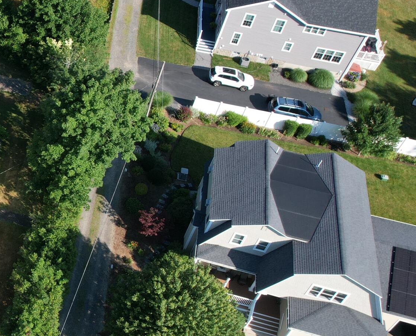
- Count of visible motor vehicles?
2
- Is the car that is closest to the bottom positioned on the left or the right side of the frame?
right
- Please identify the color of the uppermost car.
white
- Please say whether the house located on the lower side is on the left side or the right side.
right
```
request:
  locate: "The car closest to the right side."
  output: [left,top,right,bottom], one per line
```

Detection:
[269,91,326,121]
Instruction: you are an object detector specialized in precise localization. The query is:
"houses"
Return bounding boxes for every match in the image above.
[176,139,416,336]
[189,0,390,78]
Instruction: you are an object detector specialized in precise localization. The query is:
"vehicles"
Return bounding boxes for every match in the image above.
[269,91,326,121]
[213,61,261,89]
